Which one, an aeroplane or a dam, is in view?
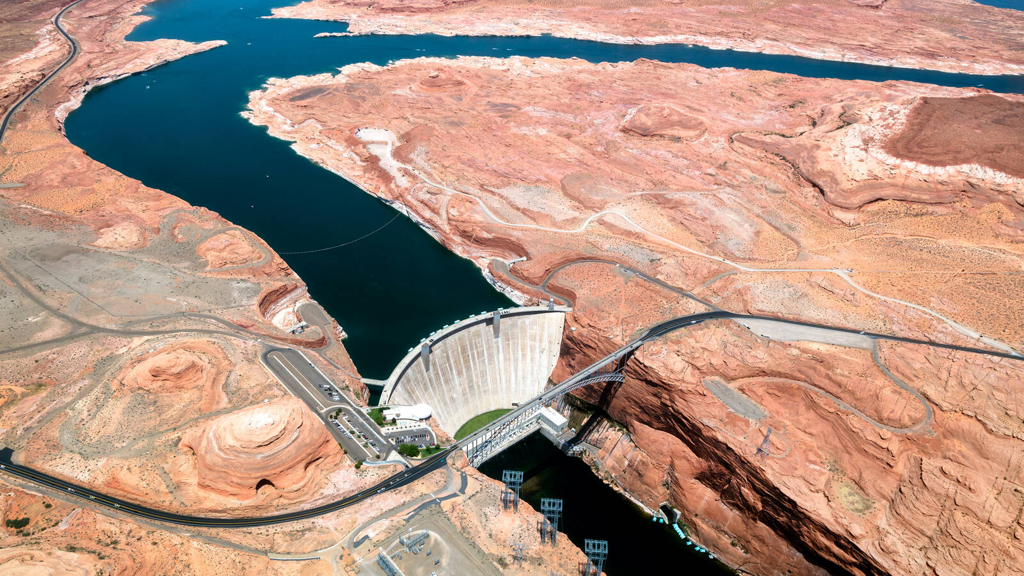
dam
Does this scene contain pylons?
Yes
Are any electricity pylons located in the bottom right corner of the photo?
Yes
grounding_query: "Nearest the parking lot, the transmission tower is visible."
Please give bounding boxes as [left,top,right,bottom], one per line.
[500,467,524,512]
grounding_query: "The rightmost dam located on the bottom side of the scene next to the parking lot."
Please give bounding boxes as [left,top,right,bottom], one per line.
[378,305,571,441]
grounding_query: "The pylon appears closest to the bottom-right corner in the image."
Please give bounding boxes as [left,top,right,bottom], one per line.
[754,433,771,462]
